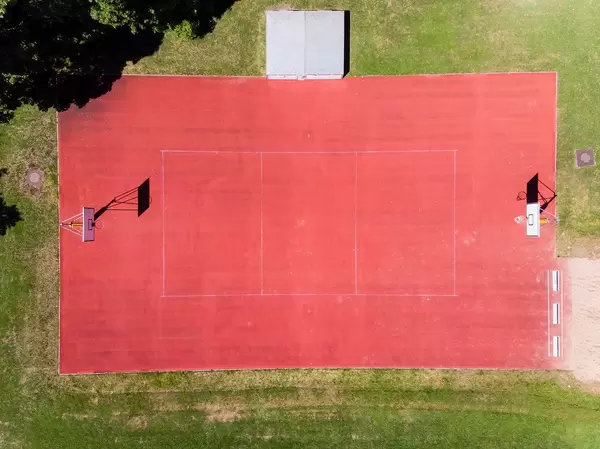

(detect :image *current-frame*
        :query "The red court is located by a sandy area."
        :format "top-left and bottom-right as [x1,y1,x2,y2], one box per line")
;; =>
[56,71,574,376]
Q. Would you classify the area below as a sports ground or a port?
sports ground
